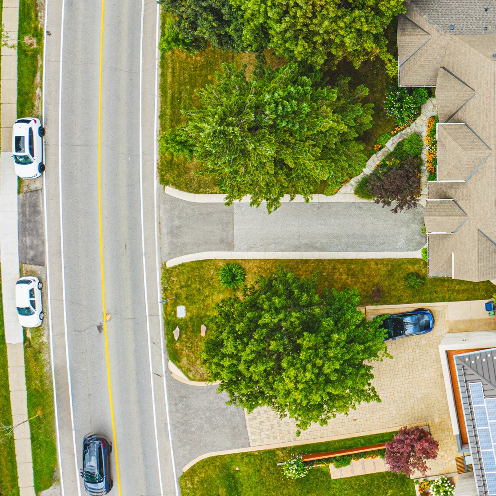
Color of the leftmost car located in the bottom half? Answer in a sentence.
From above, the leftmost car located in the bottom half appears white.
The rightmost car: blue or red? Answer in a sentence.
In this view, the rightmost car is blue.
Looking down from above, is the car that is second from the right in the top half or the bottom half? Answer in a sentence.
It is in the bottom half that the car that is second from the right appears.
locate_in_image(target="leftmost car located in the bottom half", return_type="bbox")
[15,276,49,328]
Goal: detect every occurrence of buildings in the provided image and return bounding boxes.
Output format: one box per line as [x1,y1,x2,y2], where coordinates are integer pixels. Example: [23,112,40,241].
[438,330,496,496]
[397,0,496,282]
